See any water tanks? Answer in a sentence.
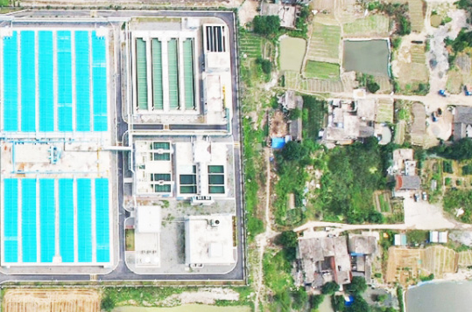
Yes, looking at the shot, I can spot a water tank.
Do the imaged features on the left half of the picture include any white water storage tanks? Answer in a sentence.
Yes, I can see a white water storage tank on the left half of the picture.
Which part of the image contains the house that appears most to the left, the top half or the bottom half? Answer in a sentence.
You can find the house that appears most to the left in the bottom half.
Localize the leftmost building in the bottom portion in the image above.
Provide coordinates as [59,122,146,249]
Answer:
[134,233,160,268]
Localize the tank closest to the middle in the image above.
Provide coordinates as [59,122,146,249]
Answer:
[174,135,229,200]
